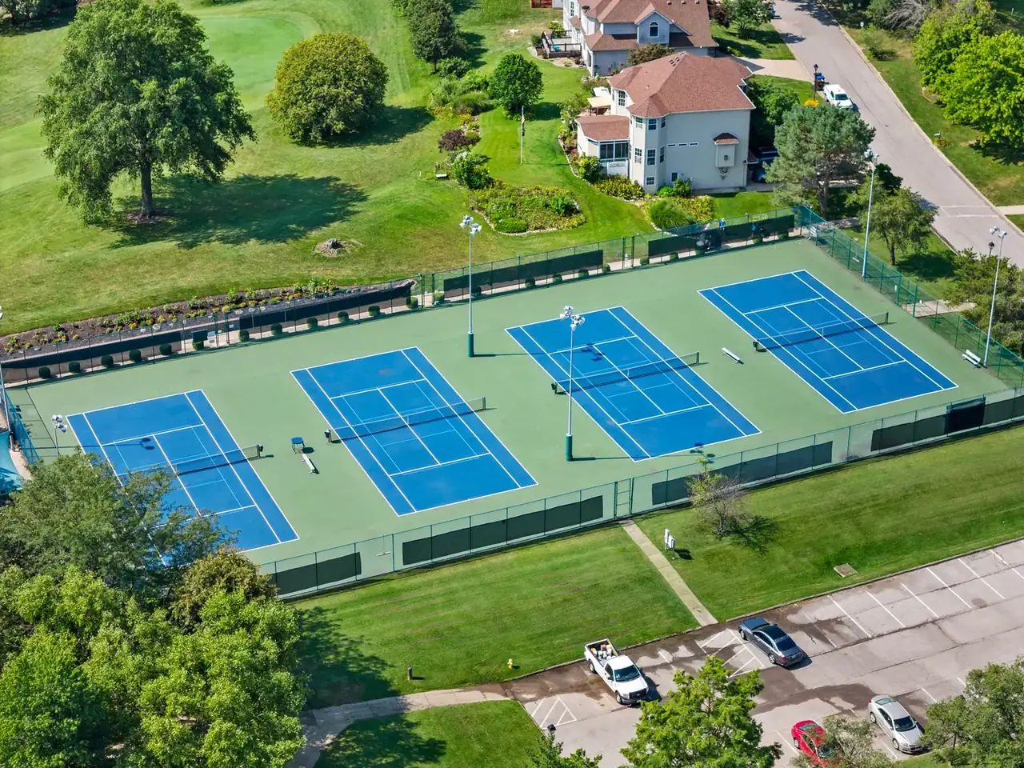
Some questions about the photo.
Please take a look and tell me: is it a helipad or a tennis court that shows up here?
tennis court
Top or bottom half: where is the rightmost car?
bottom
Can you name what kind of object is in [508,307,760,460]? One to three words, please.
tennis court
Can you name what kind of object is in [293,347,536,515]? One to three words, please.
tennis court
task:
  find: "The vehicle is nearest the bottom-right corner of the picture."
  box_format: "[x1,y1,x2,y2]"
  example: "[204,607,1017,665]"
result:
[868,694,930,749]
